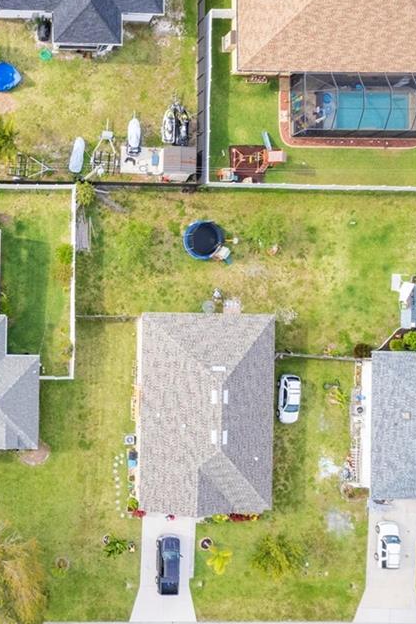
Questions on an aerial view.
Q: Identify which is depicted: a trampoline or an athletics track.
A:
trampoline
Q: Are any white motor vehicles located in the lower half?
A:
Yes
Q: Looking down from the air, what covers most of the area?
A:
grass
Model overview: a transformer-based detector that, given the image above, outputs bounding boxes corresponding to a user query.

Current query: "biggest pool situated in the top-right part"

[334,88,413,130]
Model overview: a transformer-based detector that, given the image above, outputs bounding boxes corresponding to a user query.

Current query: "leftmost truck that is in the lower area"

[156,533,183,596]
